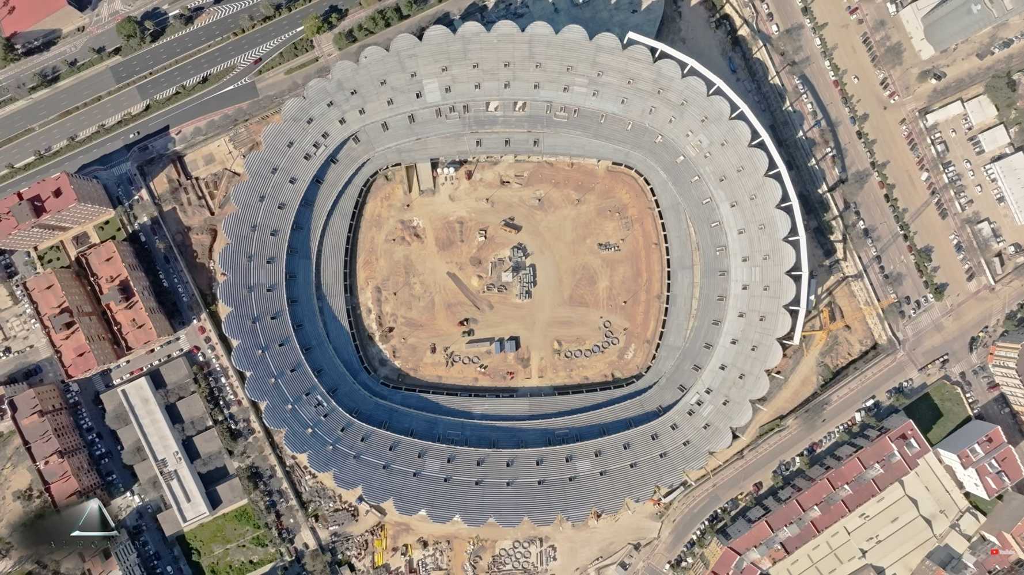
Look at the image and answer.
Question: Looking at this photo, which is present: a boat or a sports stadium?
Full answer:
Looking from above, you can make out a sports stadium.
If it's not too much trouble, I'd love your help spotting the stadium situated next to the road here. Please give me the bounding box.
[216,17,809,532]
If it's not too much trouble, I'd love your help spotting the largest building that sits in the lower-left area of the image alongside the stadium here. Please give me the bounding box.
[100,356,253,536]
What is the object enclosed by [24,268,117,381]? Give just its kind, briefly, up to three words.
building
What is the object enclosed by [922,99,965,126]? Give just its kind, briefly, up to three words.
shed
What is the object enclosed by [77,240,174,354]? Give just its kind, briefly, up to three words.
building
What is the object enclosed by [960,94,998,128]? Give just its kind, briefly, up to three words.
shed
